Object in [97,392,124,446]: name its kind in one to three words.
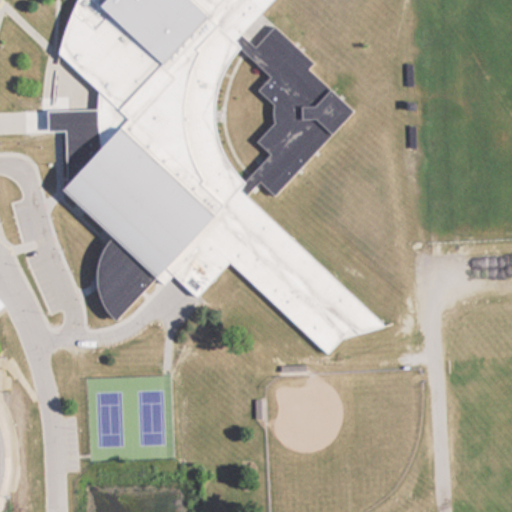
tennis court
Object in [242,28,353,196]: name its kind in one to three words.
building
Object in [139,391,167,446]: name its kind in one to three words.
tennis court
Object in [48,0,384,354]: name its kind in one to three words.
building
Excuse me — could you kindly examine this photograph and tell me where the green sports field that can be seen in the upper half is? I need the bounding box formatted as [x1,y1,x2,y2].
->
[412,0,512,240]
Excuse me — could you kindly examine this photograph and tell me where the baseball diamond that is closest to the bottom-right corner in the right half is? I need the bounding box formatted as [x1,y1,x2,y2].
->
[266,369,424,512]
